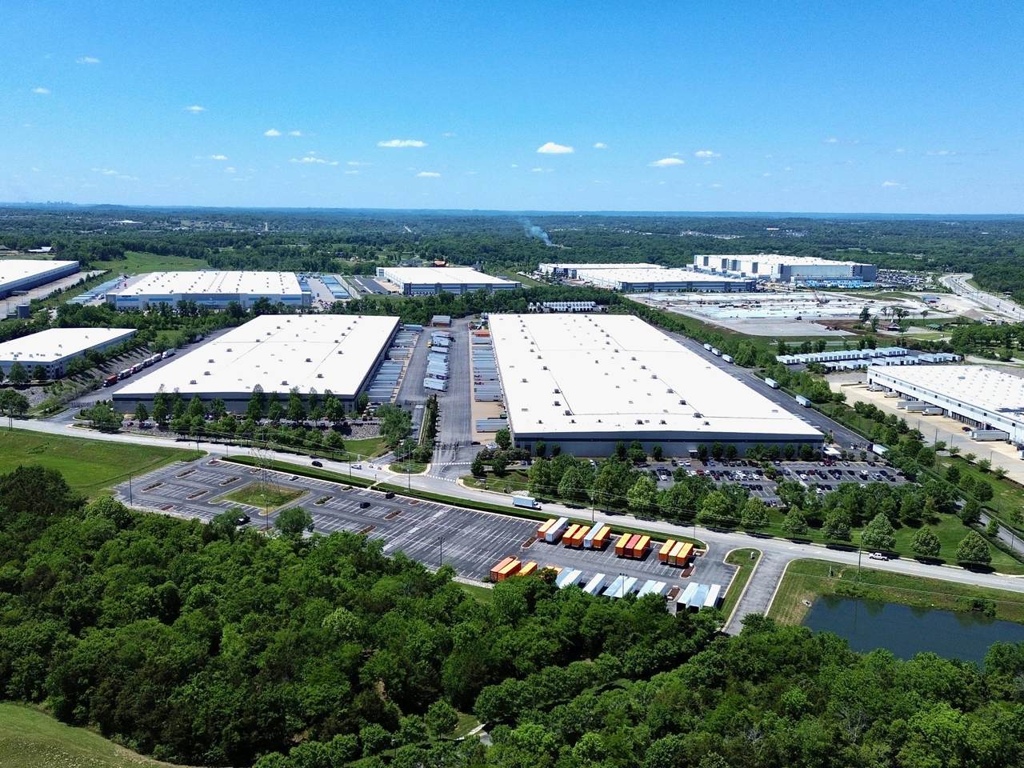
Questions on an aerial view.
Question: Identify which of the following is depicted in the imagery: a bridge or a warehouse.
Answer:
warehouse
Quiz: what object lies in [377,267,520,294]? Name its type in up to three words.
building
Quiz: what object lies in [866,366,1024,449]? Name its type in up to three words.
building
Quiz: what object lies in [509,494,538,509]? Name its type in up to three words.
vehicle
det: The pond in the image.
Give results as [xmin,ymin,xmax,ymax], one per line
[805,593,1024,679]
